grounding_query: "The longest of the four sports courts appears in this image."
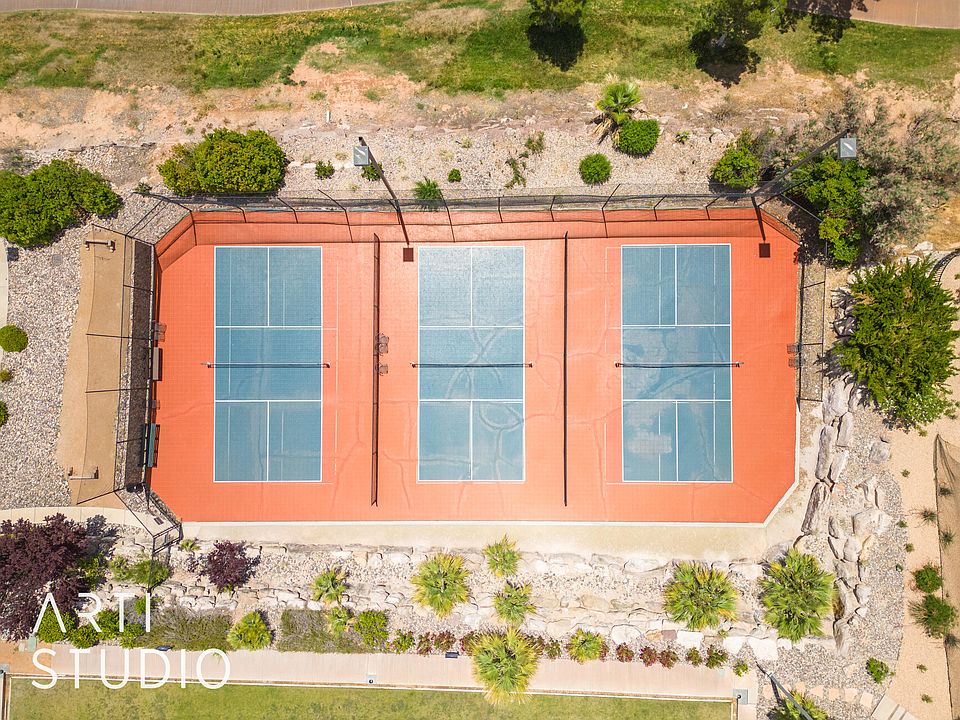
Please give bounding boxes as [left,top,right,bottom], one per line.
[146,204,802,527]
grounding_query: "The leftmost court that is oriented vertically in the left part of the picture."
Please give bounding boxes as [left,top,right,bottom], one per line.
[214,247,322,483]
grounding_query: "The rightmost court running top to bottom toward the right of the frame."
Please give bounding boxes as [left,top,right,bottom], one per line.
[622,244,732,483]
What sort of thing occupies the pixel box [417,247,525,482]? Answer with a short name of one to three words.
sports court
